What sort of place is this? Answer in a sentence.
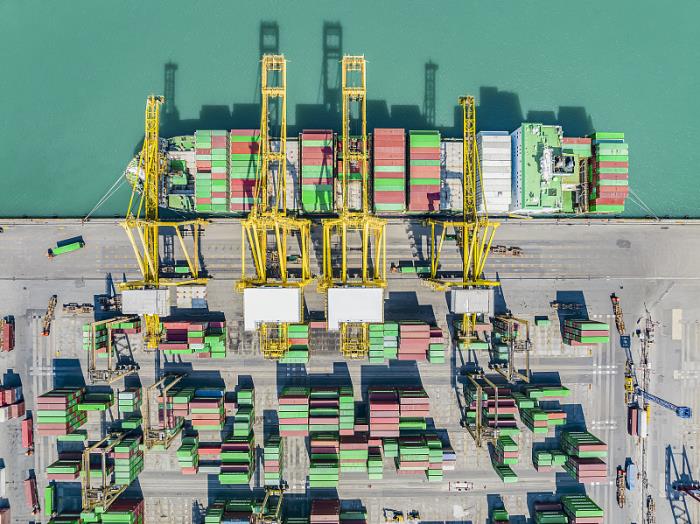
It's a port.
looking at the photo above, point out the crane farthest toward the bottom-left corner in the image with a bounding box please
[82,428,134,512]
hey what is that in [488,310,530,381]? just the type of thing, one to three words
container crane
